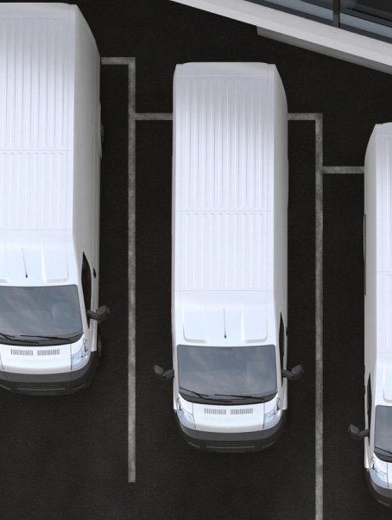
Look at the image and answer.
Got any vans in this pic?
Yes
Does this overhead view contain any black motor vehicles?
No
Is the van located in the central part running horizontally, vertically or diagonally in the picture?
vertically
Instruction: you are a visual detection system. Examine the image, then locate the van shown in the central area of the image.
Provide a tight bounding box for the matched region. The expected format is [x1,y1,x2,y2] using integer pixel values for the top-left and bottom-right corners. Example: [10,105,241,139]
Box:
[155,61,303,454]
